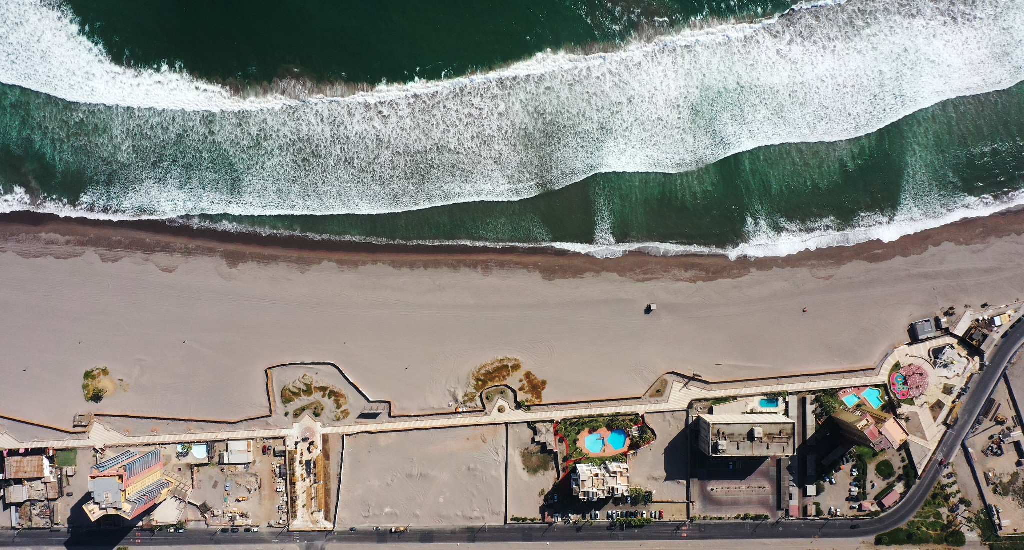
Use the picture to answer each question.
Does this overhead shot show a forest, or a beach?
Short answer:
beach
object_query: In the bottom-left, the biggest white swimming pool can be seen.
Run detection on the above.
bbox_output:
[190,444,208,459]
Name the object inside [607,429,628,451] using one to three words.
swimming pool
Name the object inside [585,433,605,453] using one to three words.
swimming pool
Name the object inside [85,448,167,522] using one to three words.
building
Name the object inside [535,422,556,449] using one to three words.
house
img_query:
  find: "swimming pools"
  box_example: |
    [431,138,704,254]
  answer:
[842,393,862,408]
[861,387,883,410]
[190,444,208,459]
[758,398,779,408]
[585,433,605,453]
[607,429,628,451]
